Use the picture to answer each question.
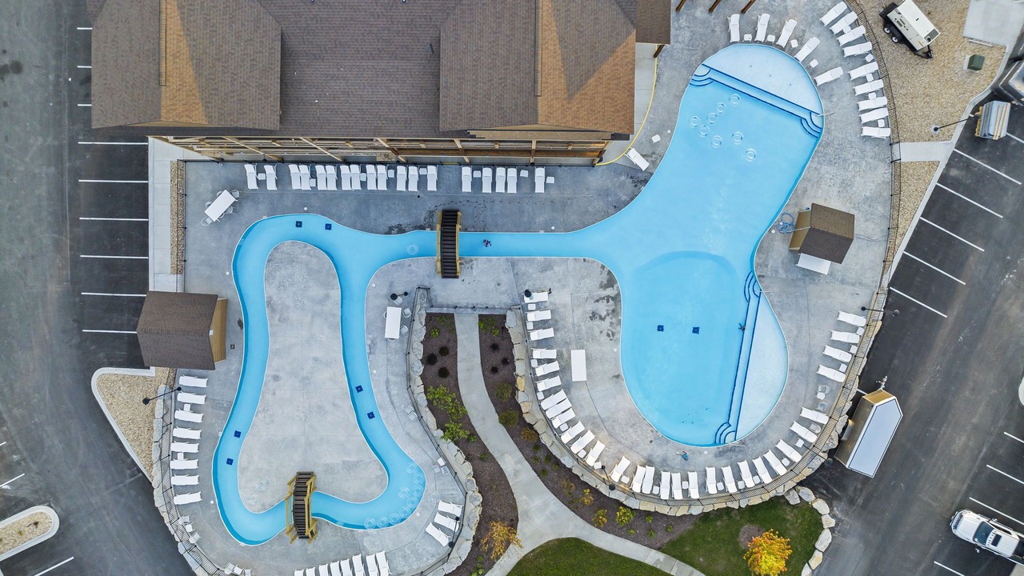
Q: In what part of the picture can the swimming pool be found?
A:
center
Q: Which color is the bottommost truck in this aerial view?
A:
white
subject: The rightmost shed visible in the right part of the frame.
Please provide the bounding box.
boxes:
[787,203,855,263]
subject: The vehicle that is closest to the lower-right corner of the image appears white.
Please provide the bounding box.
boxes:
[943,506,1024,565]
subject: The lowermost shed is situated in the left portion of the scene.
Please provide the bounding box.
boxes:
[135,291,230,370]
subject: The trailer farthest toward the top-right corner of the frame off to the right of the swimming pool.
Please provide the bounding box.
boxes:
[987,40,1024,109]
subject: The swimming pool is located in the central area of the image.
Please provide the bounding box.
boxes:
[211,43,835,546]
